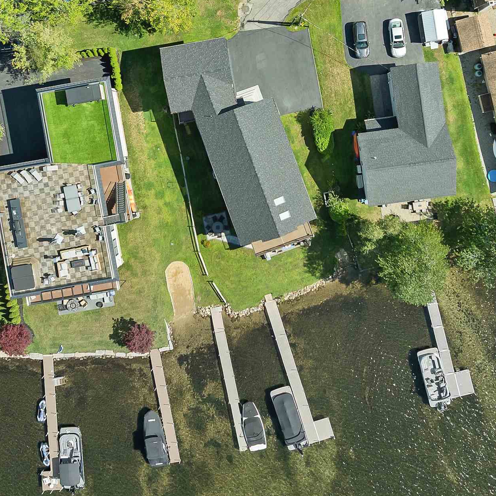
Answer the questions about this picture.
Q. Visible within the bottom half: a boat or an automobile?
boat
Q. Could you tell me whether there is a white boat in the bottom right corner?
Yes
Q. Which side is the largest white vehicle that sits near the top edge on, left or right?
right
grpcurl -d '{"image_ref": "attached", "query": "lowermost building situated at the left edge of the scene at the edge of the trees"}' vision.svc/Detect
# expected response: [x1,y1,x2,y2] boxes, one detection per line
[0,75,136,309]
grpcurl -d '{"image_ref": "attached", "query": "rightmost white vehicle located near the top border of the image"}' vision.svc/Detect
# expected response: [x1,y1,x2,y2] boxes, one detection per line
[417,10,450,51]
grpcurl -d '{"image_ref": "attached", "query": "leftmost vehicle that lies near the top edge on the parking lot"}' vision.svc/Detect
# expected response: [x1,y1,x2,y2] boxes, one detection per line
[352,21,371,60]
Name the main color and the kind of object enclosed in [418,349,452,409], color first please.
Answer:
white boat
